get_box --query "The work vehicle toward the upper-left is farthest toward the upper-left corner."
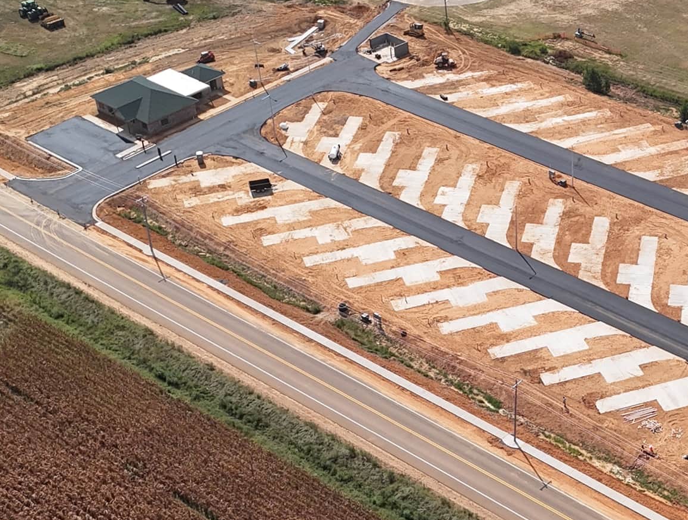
[20,0,48,20]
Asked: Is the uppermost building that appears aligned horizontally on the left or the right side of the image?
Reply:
left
